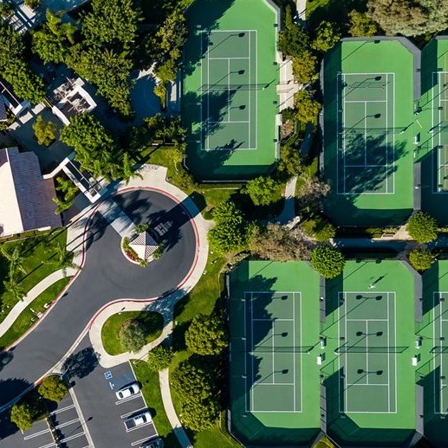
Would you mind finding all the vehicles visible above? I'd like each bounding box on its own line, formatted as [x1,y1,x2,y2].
[116,383,140,399]
[124,412,152,429]
[139,438,164,448]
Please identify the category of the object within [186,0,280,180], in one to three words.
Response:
tennis court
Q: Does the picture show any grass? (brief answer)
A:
Yes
